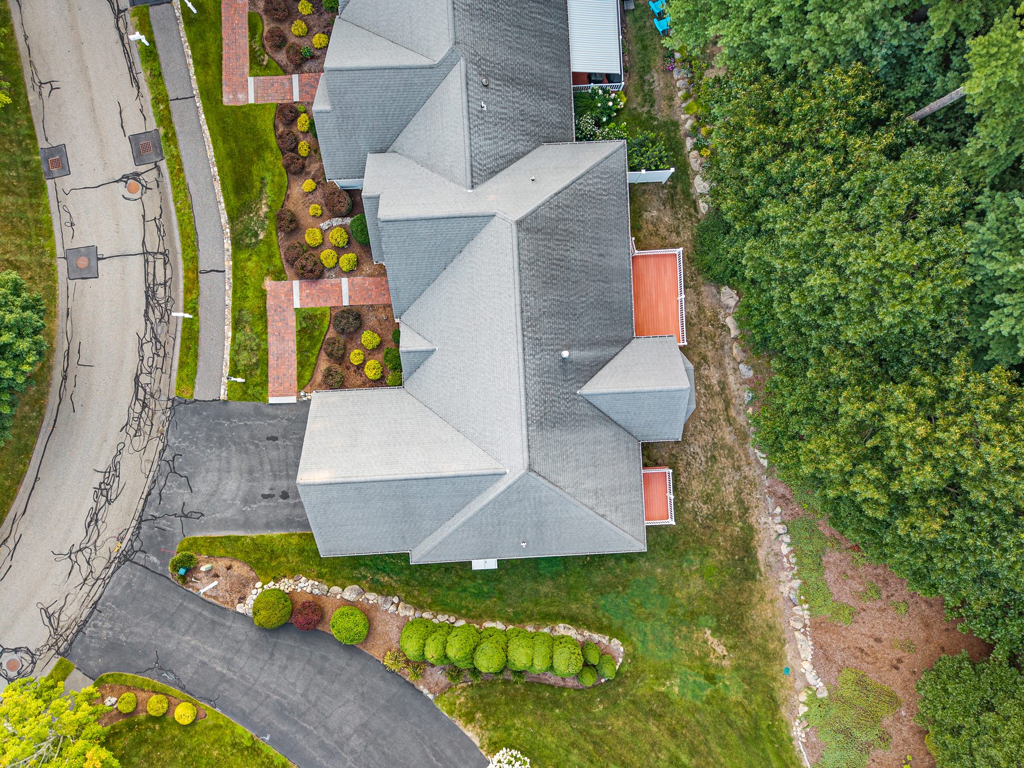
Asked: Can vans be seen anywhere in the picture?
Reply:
No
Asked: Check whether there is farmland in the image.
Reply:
No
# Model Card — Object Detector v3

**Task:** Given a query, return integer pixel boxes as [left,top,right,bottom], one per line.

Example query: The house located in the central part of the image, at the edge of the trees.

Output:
[297,139,696,567]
